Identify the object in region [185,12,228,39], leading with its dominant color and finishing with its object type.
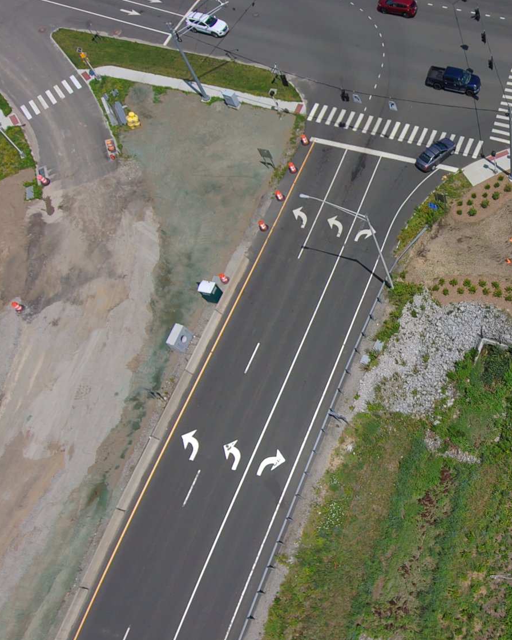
white car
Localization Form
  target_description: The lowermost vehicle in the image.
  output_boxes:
[415,139,456,173]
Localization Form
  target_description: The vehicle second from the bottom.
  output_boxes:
[425,66,480,96]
